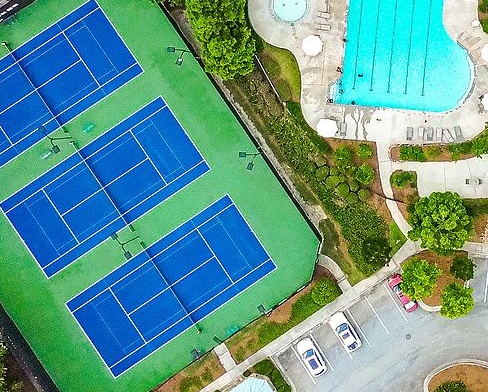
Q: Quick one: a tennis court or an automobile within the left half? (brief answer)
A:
tennis court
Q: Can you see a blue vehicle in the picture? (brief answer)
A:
No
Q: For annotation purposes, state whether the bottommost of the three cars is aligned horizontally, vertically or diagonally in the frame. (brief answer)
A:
diagonally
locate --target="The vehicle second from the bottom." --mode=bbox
[329,310,363,351]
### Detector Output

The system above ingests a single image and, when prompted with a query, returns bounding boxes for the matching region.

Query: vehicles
[294,338,328,378]
[329,310,363,351]
[385,271,421,314]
